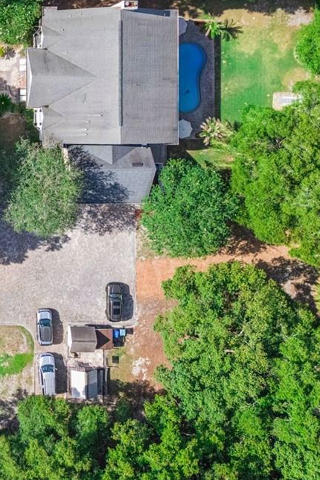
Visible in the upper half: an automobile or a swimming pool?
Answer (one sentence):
What appears in the upper half is a swimming pool.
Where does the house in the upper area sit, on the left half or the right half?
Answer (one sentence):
The house in the upper area is on the left side of the image.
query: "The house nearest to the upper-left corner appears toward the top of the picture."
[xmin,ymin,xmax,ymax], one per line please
[16,0,179,203]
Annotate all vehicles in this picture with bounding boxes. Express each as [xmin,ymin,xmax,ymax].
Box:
[36,308,54,344]
[37,352,56,396]
[104,281,123,319]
